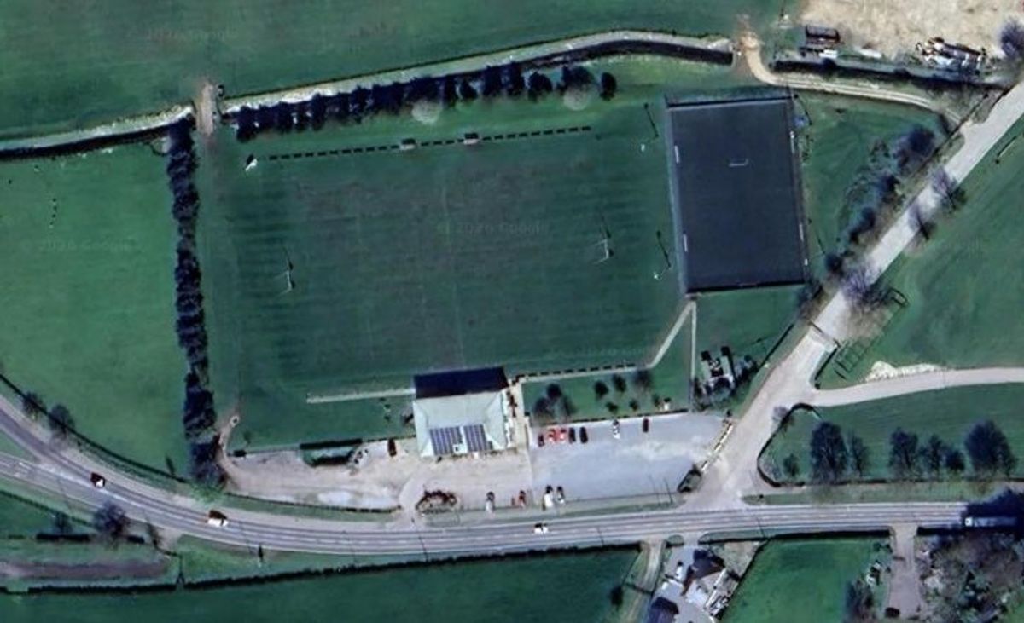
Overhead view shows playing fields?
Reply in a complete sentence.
Yes, there's a playing field down there.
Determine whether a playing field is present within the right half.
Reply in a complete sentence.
Yes, a playing field appears within the right half.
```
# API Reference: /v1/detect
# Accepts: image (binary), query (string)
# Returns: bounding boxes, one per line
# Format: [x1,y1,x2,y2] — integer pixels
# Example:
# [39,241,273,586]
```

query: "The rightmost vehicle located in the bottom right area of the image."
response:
[965,513,1018,525]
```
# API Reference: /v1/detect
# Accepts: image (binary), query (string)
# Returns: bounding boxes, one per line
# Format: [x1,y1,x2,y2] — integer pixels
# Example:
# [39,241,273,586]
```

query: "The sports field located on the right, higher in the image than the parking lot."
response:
[670,96,806,291]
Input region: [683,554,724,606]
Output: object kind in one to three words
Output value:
house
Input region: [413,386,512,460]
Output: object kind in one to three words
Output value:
building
